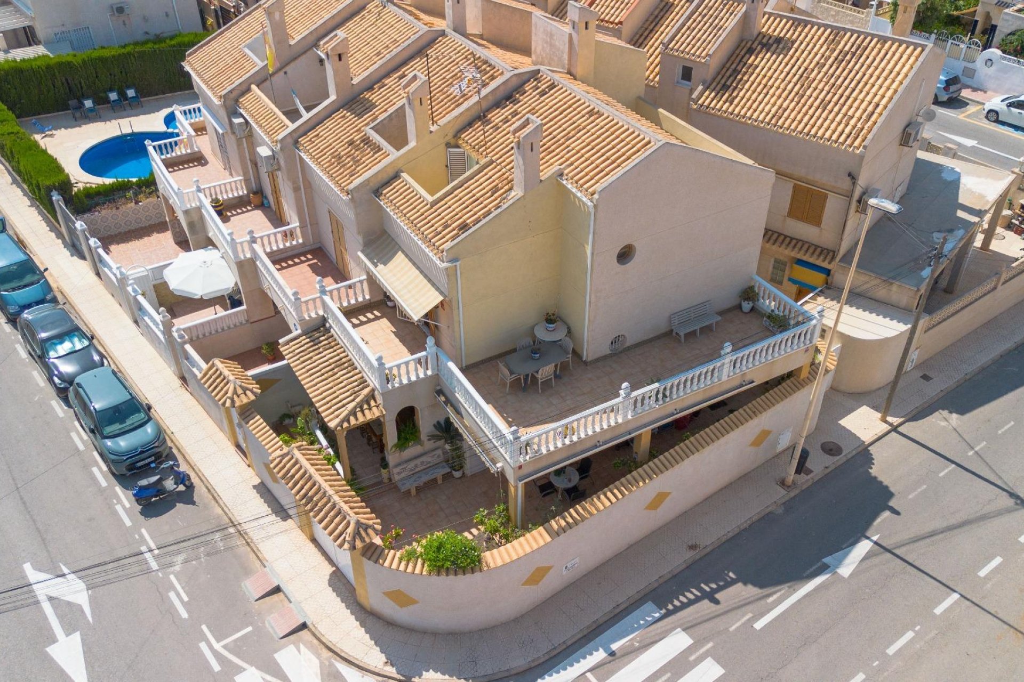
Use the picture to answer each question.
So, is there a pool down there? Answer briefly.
Yes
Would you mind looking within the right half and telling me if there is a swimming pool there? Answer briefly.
No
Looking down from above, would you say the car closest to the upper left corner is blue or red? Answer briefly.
blue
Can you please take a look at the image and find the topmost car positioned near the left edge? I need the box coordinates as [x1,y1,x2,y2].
[0,239,65,335]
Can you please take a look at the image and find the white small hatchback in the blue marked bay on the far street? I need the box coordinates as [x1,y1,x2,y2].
[982,91,1024,124]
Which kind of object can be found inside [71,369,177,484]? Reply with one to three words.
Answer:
car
